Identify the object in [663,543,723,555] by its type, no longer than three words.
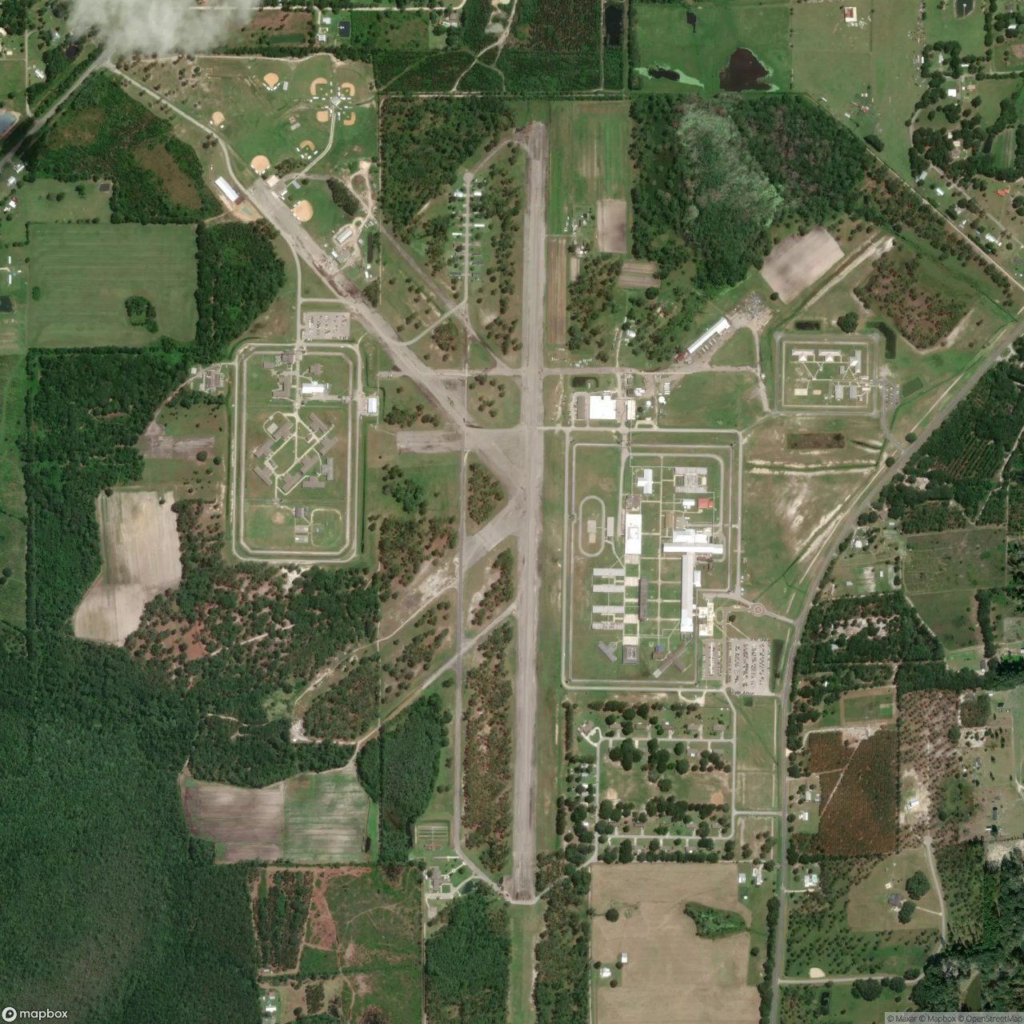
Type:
building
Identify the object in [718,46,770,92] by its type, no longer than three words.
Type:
pond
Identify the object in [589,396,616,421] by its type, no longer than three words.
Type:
building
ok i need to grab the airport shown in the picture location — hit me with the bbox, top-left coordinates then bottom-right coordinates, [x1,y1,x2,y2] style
[250,122,756,905]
